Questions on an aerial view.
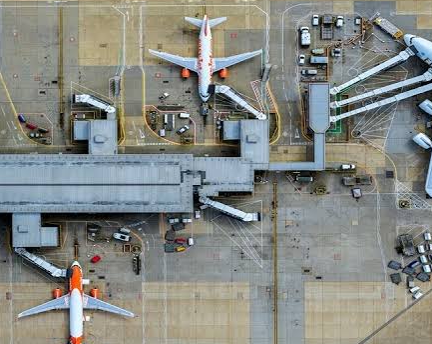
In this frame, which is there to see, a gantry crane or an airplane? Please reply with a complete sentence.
There is an airplane in the scene.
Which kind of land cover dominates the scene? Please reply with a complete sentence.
The largest share of the image is taken up by paved ground.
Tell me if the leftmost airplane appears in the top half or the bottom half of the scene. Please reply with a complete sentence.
It is in the bottom half that the leftmost airplane appears.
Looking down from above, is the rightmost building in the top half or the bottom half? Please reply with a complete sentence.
It is in the top half that the rightmost building appears.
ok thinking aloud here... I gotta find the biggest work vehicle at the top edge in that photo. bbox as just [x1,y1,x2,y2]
[376,14,409,41]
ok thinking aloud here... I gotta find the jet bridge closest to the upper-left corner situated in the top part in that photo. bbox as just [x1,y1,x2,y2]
[74,93,116,113]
